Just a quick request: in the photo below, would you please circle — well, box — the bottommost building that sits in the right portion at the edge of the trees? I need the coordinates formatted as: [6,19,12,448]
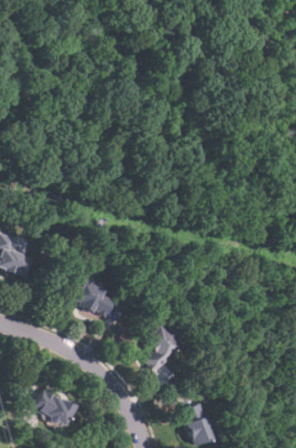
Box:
[187,414,216,444]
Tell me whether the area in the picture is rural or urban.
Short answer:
rural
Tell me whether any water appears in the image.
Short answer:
No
